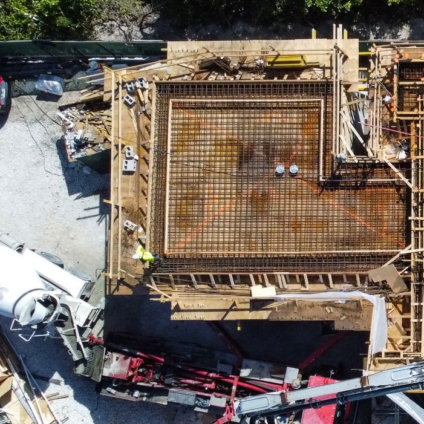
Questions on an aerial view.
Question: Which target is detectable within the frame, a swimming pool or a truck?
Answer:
truck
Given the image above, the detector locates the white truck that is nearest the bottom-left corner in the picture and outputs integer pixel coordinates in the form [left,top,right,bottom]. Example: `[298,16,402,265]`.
[0,229,108,366]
